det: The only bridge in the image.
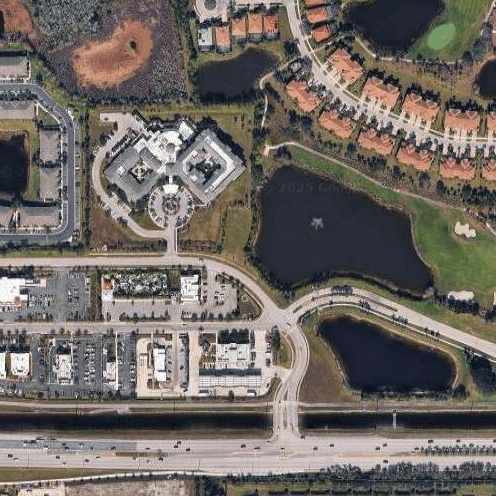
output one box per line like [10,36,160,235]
[271,396,300,438]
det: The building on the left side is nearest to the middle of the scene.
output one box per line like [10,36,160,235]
[181,275,199,302]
